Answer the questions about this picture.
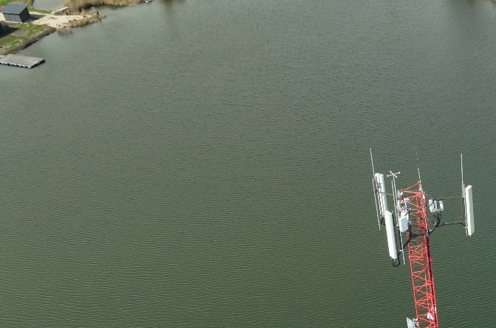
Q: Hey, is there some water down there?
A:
Yes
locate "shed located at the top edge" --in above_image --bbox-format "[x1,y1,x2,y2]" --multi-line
[0,0,39,22]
